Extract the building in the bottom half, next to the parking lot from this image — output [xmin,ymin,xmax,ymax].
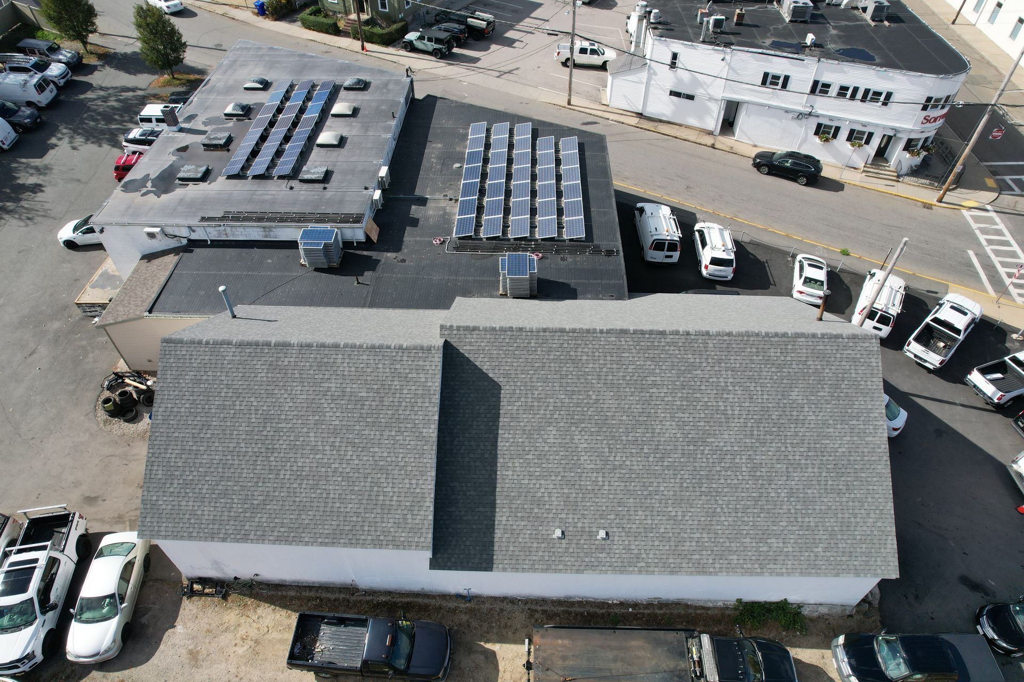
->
[137,296,898,615]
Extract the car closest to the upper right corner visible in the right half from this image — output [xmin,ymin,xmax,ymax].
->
[751,150,824,186]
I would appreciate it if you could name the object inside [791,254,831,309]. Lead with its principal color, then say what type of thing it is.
white car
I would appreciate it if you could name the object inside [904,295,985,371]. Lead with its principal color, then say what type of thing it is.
white truck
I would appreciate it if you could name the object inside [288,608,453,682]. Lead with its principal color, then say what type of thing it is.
black truck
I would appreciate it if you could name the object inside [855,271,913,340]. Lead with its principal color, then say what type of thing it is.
white van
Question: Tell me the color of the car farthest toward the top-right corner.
black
